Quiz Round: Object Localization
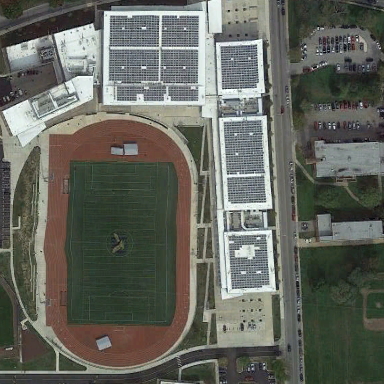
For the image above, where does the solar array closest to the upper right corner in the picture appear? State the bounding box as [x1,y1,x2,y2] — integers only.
[221,45,258,89]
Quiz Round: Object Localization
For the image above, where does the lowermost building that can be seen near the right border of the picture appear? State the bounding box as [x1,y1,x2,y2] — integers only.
[313,214,384,241]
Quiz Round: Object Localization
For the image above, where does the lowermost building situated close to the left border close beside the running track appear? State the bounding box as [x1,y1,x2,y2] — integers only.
[0,76,93,137]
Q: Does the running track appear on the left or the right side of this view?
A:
left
